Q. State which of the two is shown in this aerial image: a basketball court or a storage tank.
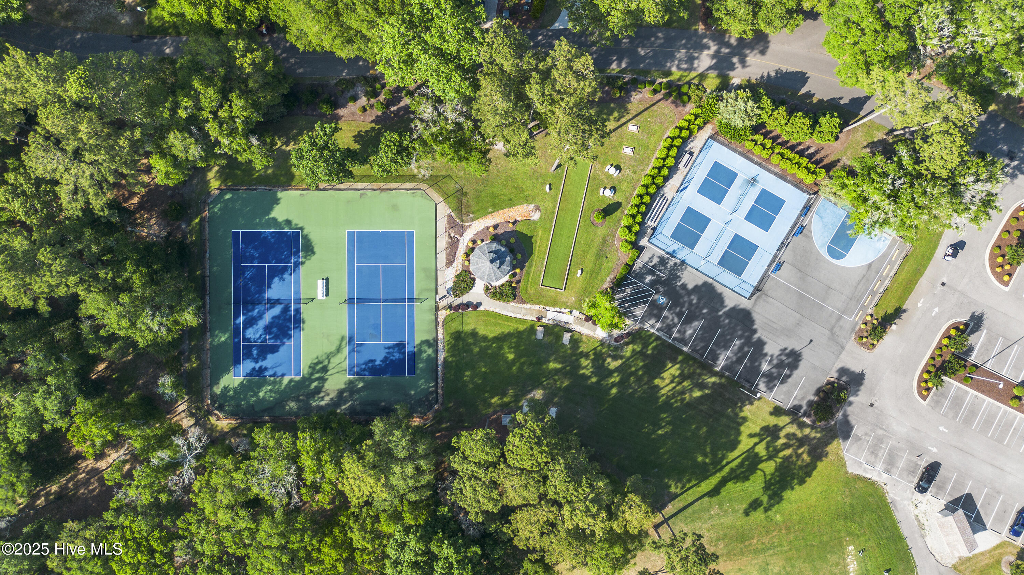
basketball court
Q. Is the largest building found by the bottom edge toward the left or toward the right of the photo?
right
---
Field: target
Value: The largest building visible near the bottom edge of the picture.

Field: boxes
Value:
[930,507,978,559]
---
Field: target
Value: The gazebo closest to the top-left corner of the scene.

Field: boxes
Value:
[468,241,512,285]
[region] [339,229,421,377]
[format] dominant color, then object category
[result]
blue tennis court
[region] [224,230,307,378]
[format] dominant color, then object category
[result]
blue tennis court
